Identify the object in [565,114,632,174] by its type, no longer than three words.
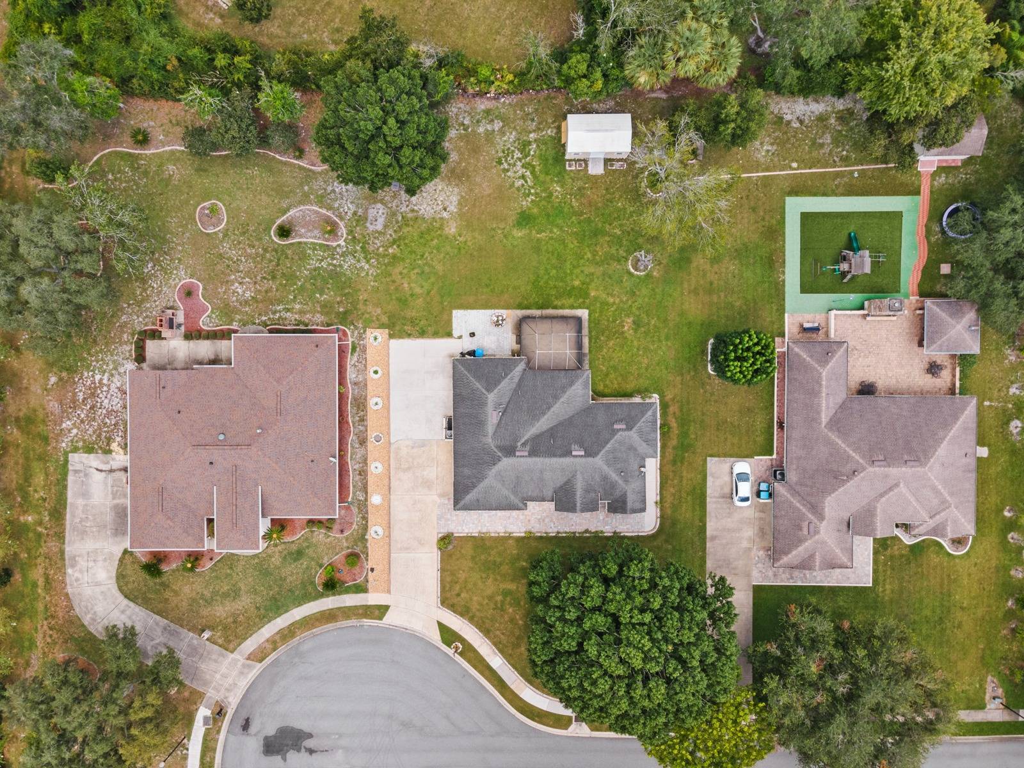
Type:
shed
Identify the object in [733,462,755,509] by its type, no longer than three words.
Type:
car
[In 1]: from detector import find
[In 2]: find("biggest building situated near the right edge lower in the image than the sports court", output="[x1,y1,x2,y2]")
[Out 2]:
[769,340,978,570]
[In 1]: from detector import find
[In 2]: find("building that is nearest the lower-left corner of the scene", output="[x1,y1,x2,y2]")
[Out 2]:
[128,334,339,552]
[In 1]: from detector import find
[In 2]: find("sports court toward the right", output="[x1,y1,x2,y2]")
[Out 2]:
[785,196,920,314]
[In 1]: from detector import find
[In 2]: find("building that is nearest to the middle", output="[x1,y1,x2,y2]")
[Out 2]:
[452,356,659,514]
